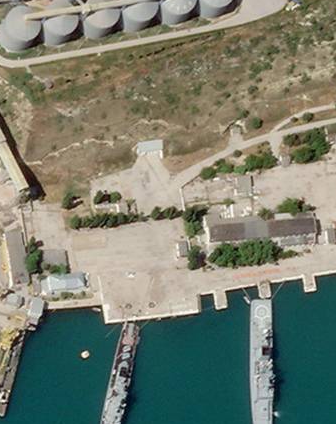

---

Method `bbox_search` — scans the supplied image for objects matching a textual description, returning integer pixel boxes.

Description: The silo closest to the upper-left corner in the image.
[0,5,42,55]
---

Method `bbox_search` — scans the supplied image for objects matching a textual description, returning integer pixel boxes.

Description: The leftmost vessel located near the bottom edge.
[104,322,138,424]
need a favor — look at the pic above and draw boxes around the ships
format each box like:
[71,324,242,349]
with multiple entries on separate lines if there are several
[250,298,273,424]
[104,322,138,424]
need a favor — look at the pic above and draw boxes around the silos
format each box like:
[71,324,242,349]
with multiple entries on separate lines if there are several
[36,0,80,48]
[113,0,158,35]
[75,0,120,42]
[0,5,42,55]
[152,0,197,28]
[191,0,233,22]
